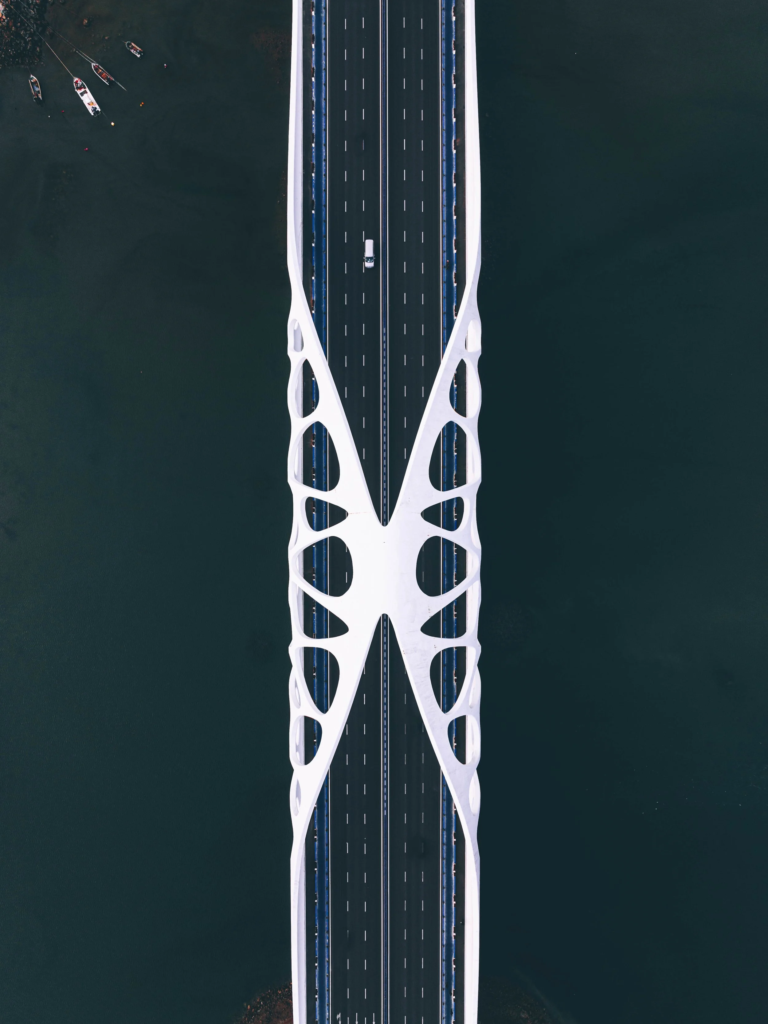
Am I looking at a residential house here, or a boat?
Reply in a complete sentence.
I can see a boat in this picture.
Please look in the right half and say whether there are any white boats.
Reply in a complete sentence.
No, looking in the right half, there is no white boat.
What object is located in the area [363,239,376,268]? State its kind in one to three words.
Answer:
vehicle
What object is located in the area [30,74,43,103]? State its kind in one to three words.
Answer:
boat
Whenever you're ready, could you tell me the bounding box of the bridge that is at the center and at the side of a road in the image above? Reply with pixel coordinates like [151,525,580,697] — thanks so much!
[287,0,482,1024]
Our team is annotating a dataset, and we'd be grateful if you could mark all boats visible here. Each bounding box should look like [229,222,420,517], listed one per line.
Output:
[125,40,144,61]
[30,74,43,103]
[72,76,102,120]
[92,63,114,86]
